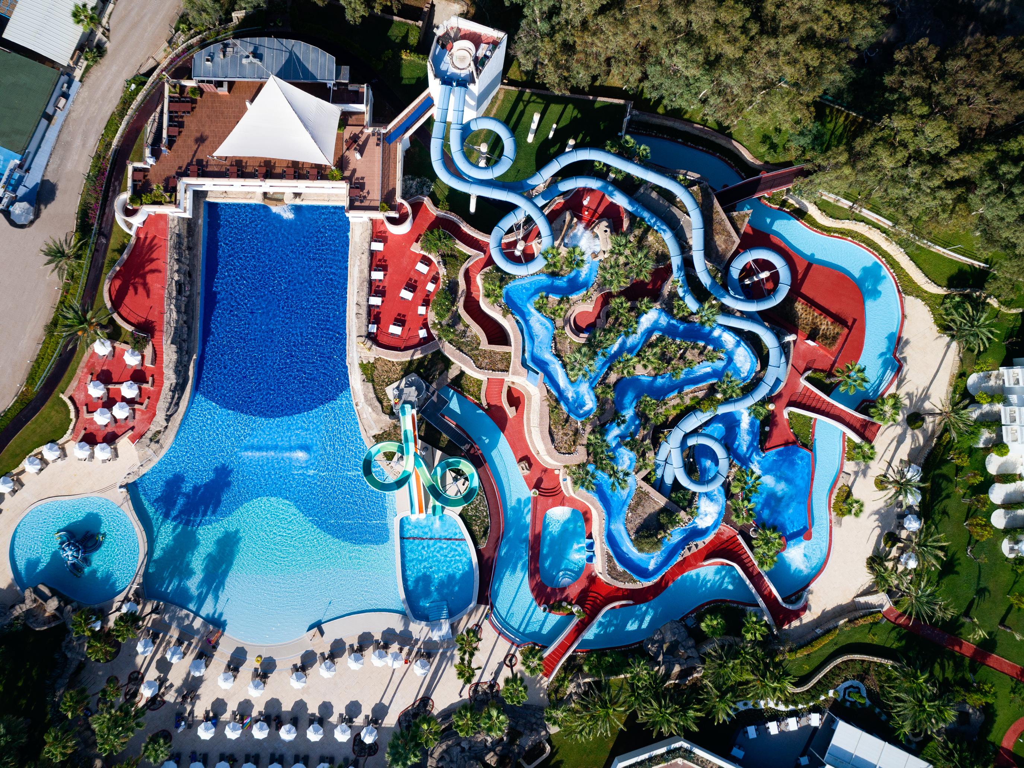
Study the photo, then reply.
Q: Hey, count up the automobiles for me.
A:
0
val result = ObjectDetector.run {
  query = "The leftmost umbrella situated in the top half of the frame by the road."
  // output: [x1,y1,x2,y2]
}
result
[12,202,36,226]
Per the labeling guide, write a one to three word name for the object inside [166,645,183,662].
umbrella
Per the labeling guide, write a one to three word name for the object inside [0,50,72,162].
building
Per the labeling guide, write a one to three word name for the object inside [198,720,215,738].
umbrella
